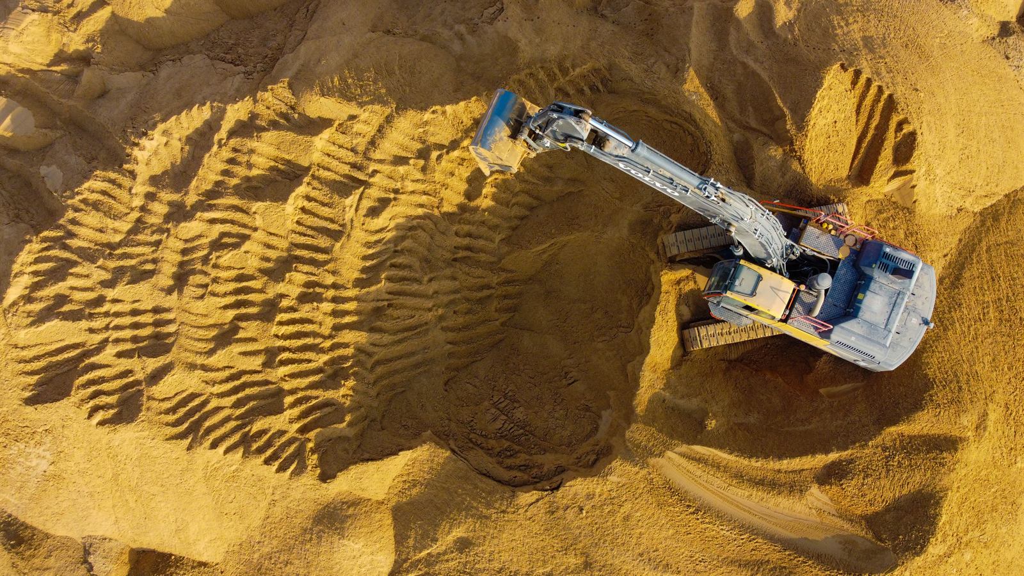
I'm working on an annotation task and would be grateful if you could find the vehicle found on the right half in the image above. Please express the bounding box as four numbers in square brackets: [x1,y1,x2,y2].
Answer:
[469,88,935,373]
